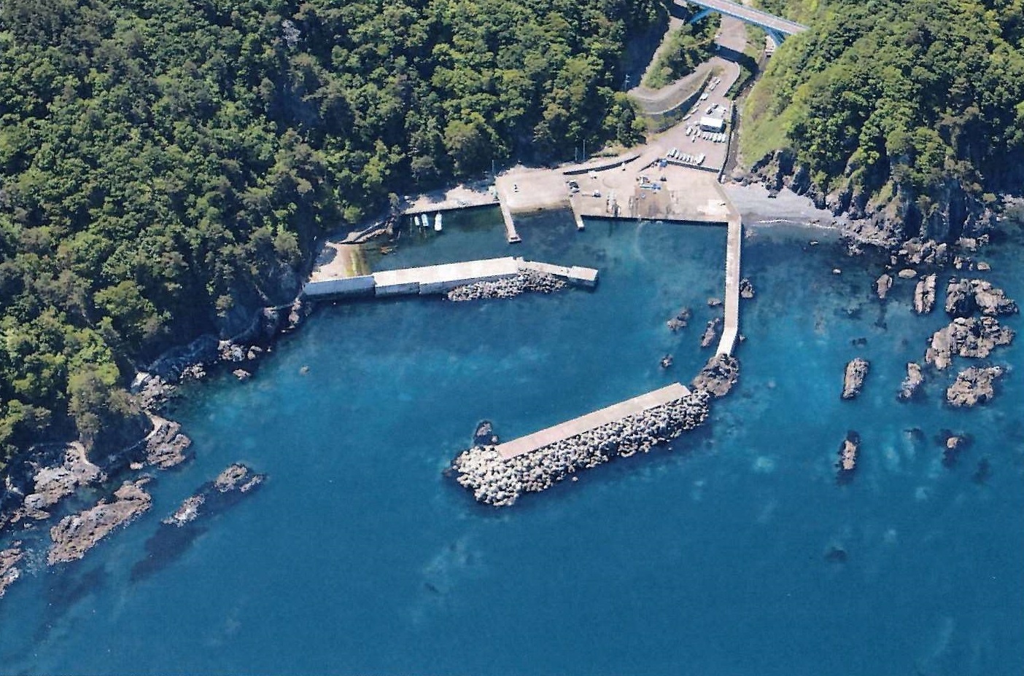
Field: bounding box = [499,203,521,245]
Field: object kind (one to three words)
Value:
pier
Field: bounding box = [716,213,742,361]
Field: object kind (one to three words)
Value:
pier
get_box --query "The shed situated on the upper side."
[701,113,726,132]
